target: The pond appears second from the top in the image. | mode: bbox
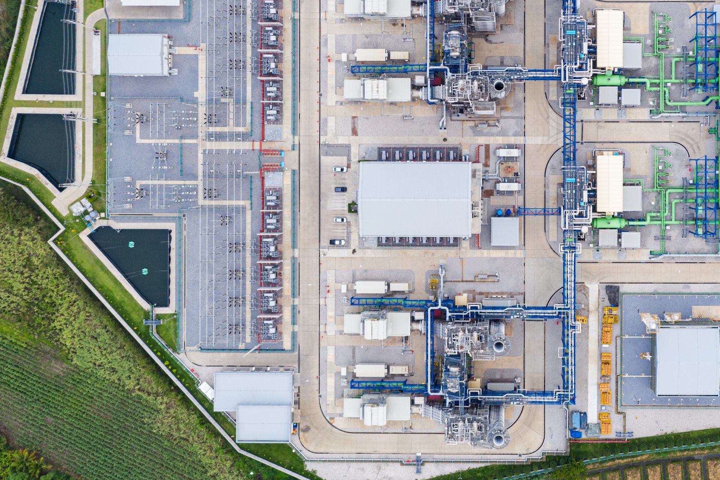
[0,107,82,197]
